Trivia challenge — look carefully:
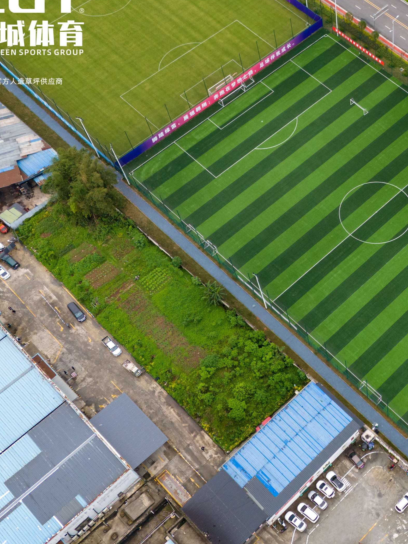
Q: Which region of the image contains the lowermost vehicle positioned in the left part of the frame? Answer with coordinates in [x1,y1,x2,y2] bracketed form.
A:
[123,358,142,377]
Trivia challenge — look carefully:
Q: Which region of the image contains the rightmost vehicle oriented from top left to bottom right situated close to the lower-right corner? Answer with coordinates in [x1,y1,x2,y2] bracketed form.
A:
[345,448,365,471]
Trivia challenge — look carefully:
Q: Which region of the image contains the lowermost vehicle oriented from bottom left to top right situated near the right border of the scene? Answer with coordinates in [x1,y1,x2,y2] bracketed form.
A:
[393,492,408,514]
